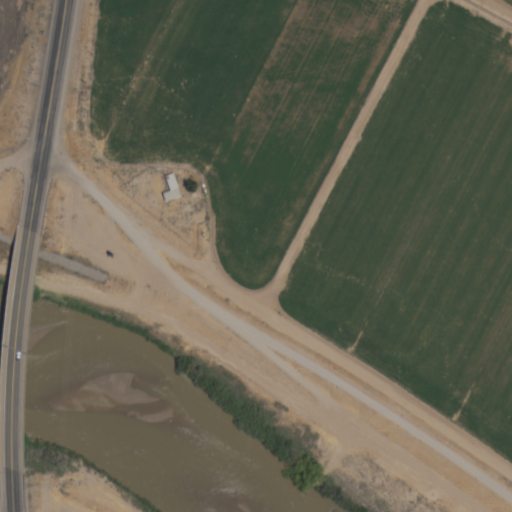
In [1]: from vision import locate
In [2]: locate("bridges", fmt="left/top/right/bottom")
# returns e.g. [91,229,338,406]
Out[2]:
[0,227,44,470]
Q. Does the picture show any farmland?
Yes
